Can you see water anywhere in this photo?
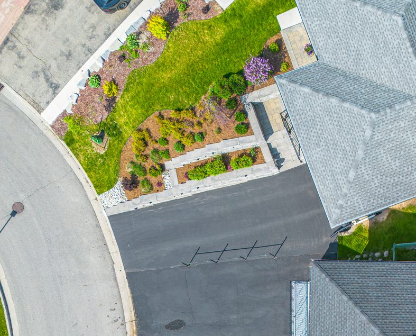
No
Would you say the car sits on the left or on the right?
left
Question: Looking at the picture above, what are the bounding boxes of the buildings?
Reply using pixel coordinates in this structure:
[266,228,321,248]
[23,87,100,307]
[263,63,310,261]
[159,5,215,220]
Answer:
[307,258,416,336]
[274,0,416,231]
